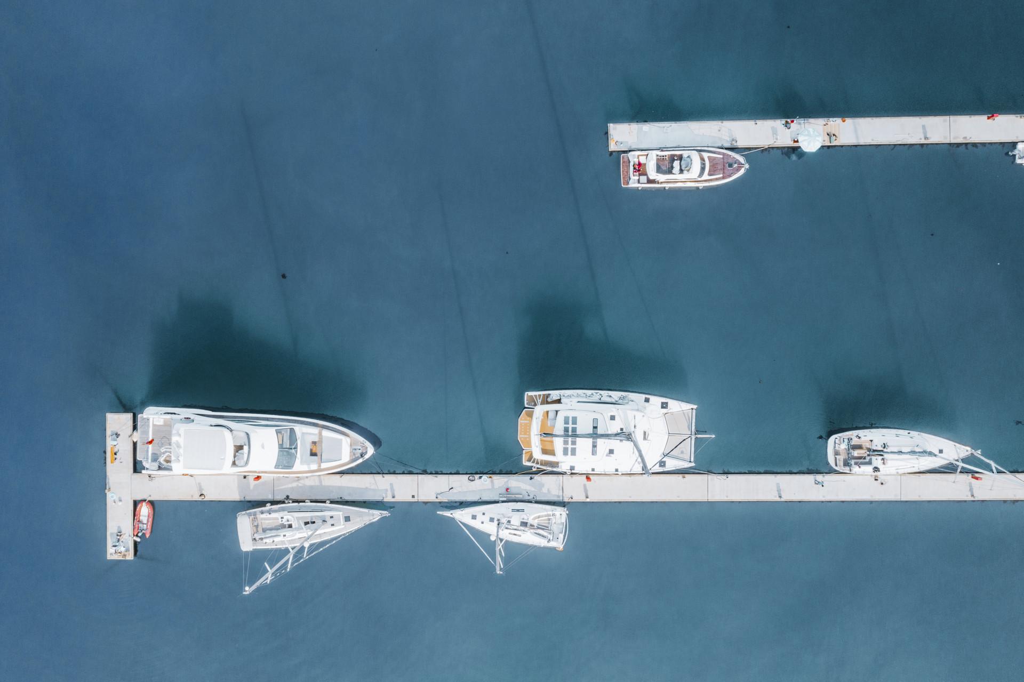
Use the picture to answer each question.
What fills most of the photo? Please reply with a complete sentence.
What you mostly see from above here is water.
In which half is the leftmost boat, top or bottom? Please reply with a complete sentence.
It is in the bottom half that the leftmost boat appears.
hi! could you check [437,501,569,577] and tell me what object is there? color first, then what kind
white boat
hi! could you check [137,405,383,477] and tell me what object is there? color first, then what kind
white boat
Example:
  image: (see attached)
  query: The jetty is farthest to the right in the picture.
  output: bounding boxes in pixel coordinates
[608,114,1024,152]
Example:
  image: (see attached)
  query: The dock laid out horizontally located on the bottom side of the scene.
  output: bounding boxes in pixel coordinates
[132,473,1024,501]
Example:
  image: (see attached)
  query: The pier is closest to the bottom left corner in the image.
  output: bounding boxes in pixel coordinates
[107,412,134,559]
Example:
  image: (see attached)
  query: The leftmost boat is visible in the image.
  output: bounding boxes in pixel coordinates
[134,500,154,537]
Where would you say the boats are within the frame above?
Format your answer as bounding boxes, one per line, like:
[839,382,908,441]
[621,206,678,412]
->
[821,427,1024,496]
[621,147,752,189]
[1006,142,1024,164]
[437,501,569,577]
[518,390,714,478]
[234,502,391,599]
[134,500,154,537]
[137,405,383,477]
